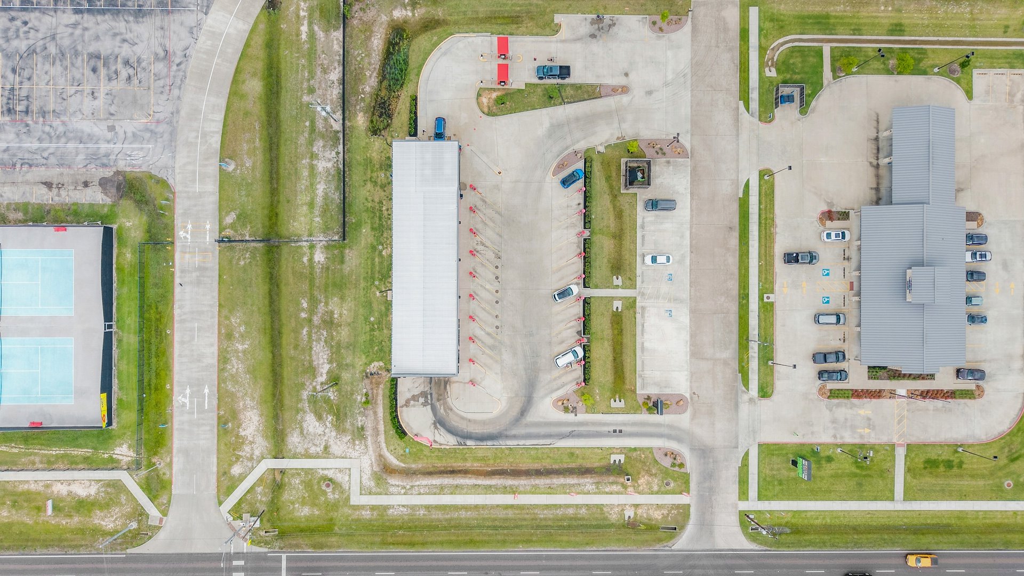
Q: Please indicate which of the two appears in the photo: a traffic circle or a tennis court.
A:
tennis court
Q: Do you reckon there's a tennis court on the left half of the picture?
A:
Yes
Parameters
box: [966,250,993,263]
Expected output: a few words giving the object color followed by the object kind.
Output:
white vehicle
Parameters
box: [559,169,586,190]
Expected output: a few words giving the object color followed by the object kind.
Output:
blue car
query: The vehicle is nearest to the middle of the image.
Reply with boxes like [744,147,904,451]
[552,284,579,303]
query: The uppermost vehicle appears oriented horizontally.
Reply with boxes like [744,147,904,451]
[536,64,570,79]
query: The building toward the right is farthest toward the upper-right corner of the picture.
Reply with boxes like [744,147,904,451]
[852,103,966,375]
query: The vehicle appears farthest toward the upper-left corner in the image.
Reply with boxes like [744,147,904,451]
[433,117,446,139]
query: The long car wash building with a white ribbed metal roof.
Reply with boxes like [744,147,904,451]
[391,139,461,378]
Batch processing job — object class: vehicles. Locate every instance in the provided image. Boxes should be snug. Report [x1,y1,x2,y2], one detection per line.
[966,313,990,326]
[813,312,846,326]
[904,553,939,569]
[554,346,584,368]
[820,228,850,242]
[783,250,820,265]
[817,369,848,382]
[645,198,677,212]
[552,284,579,303]
[811,350,847,365]
[559,169,586,190]
[644,253,672,266]
[966,232,990,246]
[536,64,570,79]
[966,250,993,263]
[433,117,446,139]
[966,269,987,283]
[955,368,986,381]
[966,294,985,307]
